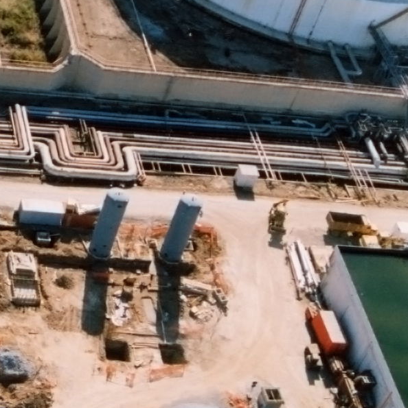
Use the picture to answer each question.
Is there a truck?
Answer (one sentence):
Yes, you can see a truck in this photo.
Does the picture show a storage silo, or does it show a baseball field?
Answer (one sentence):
The one in the frame is a storage silo.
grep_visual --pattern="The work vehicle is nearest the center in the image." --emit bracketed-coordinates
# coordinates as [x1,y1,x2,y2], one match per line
[270,205,289,233]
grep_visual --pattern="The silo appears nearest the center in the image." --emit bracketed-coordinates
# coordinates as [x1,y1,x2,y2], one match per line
[160,191,209,268]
